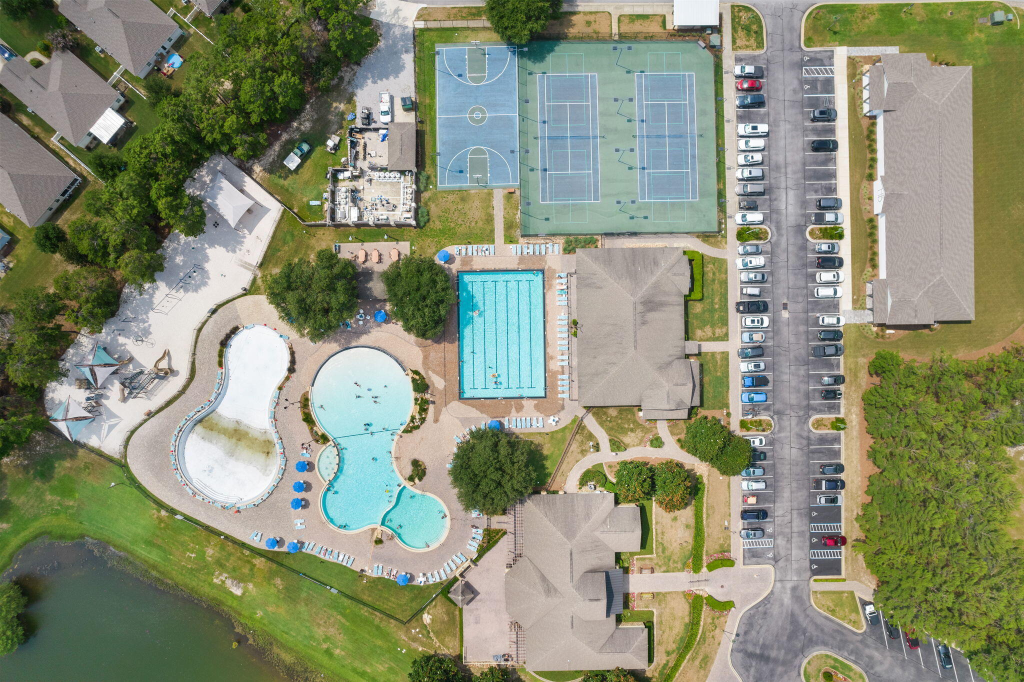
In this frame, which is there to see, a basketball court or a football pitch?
basketball court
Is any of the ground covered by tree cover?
Yes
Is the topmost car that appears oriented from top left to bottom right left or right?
left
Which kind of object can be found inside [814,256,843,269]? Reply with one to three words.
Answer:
vehicle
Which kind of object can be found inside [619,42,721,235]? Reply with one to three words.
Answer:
tennis court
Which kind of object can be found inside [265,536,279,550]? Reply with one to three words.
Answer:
umbrella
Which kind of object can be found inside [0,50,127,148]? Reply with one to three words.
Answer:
house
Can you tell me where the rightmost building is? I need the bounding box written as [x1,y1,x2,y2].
[861,52,975,324]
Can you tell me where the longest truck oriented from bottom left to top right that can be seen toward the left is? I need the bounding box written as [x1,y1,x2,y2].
[283,141,311,171]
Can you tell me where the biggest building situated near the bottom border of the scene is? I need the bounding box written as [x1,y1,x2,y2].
[505,493,648,671]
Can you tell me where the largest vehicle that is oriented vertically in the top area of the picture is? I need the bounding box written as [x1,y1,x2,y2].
[379,91,391,124]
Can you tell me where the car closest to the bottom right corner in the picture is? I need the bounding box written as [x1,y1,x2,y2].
[934,641,953,670]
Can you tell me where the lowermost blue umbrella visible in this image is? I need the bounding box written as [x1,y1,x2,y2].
[396,571,410,585]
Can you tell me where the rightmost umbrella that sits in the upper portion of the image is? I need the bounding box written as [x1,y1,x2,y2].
[437,250,450,263]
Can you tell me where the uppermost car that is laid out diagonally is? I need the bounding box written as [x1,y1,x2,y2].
[0,41,21,62]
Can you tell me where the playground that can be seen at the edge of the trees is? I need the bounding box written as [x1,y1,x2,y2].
[44,154,282,457]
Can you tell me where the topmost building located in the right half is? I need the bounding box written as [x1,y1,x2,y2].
[671,0,719,33]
